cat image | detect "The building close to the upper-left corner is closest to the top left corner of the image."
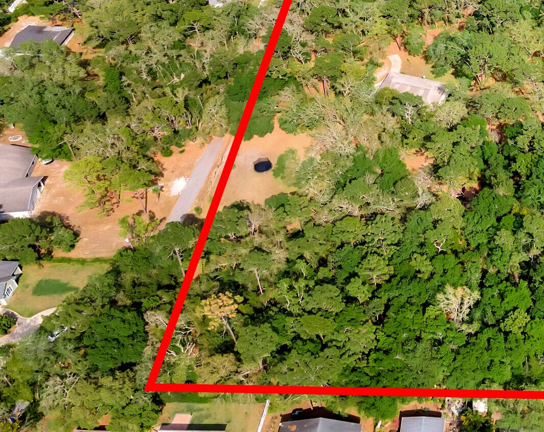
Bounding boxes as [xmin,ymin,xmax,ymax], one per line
[10,28,72,54]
